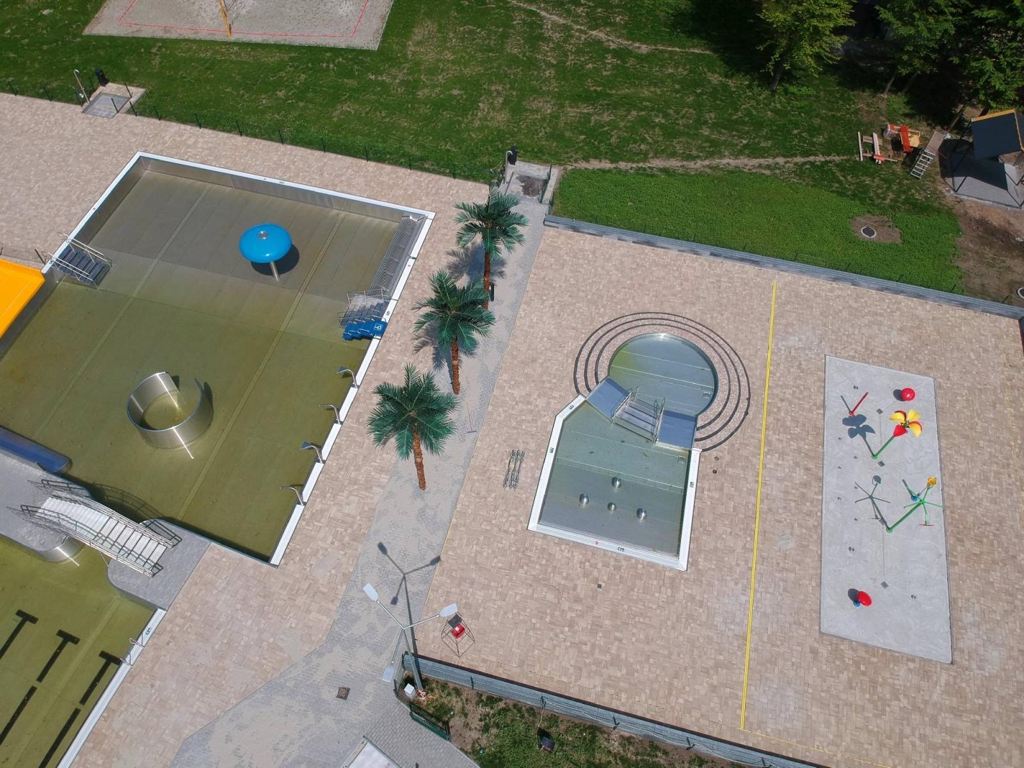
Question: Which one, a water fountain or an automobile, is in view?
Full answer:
It is a water fountain that can be seen here.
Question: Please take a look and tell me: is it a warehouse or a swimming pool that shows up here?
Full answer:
This aerial view contains a swimming pool.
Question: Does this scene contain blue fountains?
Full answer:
Yes, the frame does contain a blue fountain.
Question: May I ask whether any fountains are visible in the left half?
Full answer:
Yes, looking in the left half, one can make out a fountain.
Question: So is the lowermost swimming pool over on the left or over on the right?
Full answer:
The lowermost swimming pool is on the left side of the image.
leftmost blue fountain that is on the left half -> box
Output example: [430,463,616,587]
[238,221,292,283]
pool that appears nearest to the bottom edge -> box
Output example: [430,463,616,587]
[0,578,168,768]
